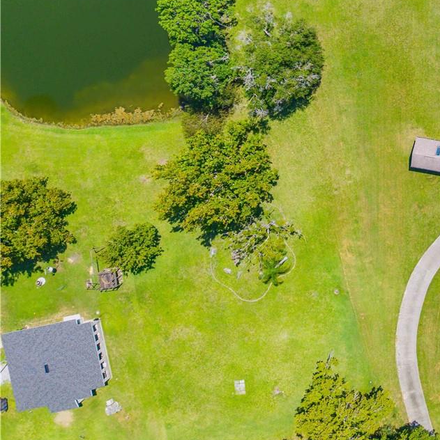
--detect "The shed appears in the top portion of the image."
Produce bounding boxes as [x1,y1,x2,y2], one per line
[411,138,440,171]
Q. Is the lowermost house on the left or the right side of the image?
left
